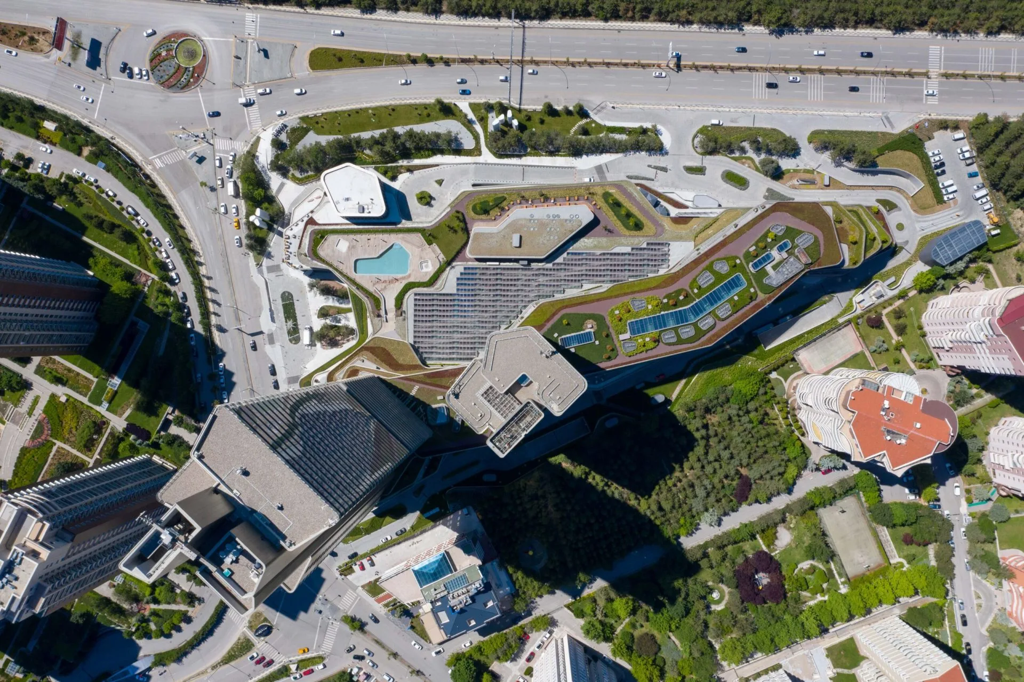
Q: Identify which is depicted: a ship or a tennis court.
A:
tennis court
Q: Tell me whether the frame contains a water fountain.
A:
Yes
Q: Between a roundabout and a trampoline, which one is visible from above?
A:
roundabout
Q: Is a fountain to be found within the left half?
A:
Yes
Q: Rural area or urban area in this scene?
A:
urban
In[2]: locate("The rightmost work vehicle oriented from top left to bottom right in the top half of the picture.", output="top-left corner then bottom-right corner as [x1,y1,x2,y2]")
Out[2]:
[983,210,1003,225]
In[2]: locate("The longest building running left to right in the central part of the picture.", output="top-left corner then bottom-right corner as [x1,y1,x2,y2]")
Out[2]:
[305,179,894,454]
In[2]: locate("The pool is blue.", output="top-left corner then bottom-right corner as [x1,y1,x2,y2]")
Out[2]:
[353,241,411,276]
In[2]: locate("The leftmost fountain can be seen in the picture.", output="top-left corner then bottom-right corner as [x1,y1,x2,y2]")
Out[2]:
[174,38,204,67]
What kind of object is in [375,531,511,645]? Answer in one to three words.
building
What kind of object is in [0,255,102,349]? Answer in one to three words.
building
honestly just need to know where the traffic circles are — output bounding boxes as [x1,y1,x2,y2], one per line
[149,32,207,91]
